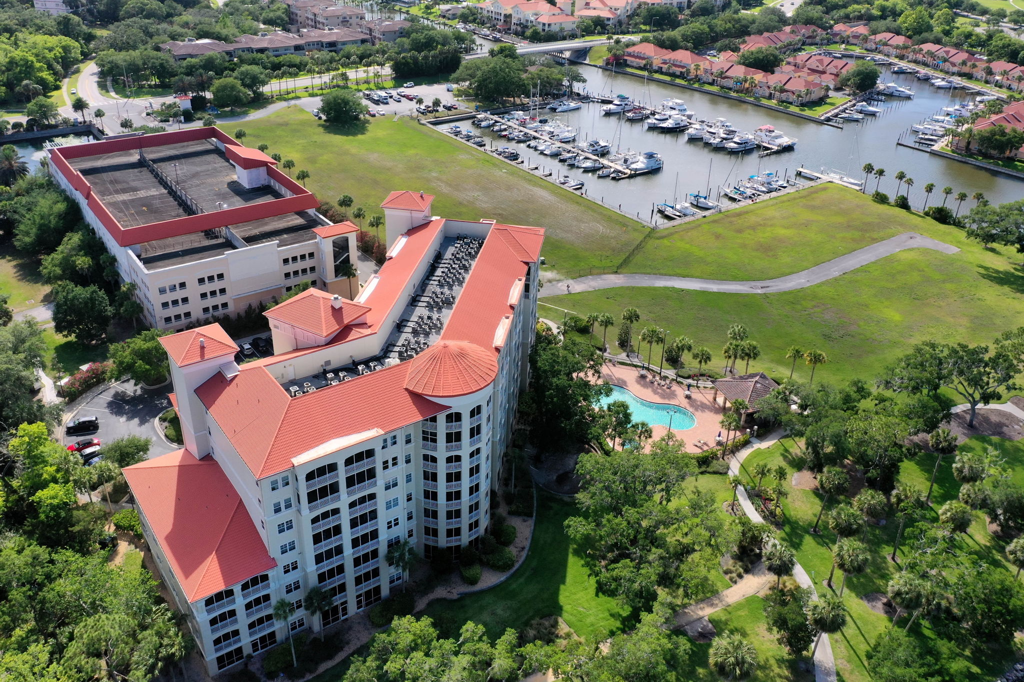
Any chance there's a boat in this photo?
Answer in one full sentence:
Yes, the picture does show a boat.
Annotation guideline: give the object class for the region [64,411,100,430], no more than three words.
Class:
car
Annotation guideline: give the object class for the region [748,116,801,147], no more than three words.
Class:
boat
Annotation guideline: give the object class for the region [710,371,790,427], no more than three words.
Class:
building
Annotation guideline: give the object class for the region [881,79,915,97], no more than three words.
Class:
boat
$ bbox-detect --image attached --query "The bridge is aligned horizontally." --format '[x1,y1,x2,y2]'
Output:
[461,36,667,66]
